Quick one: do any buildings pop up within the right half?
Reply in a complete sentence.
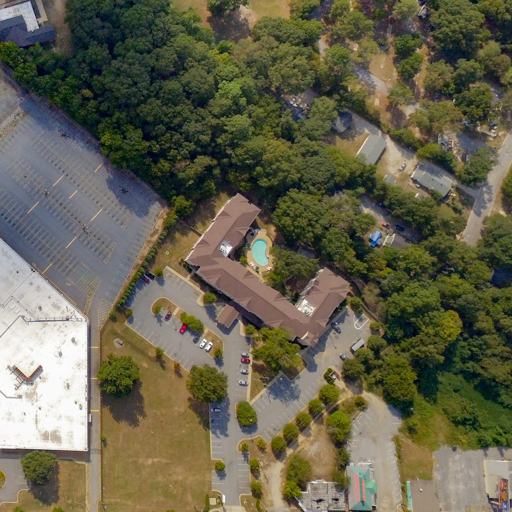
Yes, there is a building within the right half.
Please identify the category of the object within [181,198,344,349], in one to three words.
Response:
building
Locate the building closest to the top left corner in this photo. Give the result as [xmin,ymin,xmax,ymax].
[0,1,57,47]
